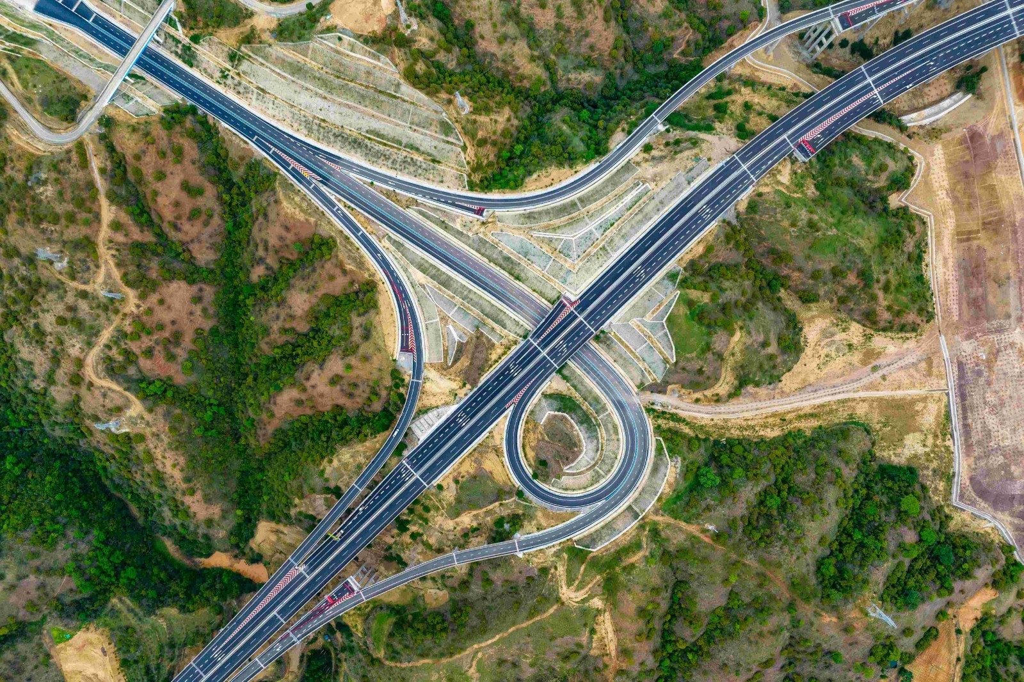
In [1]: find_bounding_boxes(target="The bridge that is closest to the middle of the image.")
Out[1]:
[528,297,595,368]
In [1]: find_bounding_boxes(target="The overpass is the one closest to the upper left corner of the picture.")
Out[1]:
[96,0,176,103]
